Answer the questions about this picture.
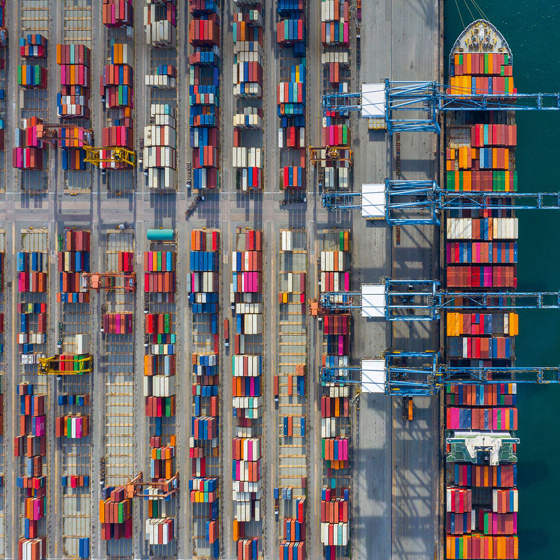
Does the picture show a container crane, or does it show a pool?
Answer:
container crane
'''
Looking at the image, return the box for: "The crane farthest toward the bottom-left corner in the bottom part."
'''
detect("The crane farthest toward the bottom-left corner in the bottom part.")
[126,470,181,499]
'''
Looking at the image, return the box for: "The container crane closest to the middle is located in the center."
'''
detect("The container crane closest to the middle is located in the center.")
[307,296,354,319]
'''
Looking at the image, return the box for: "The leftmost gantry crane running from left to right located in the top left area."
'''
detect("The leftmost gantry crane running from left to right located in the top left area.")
[36,123,94,149]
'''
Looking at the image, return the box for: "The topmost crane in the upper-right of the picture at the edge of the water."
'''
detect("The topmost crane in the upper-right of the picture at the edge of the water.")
[321,78,560,139]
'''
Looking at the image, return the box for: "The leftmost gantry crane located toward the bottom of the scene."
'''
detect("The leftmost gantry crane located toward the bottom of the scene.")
[36,352,94,375]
